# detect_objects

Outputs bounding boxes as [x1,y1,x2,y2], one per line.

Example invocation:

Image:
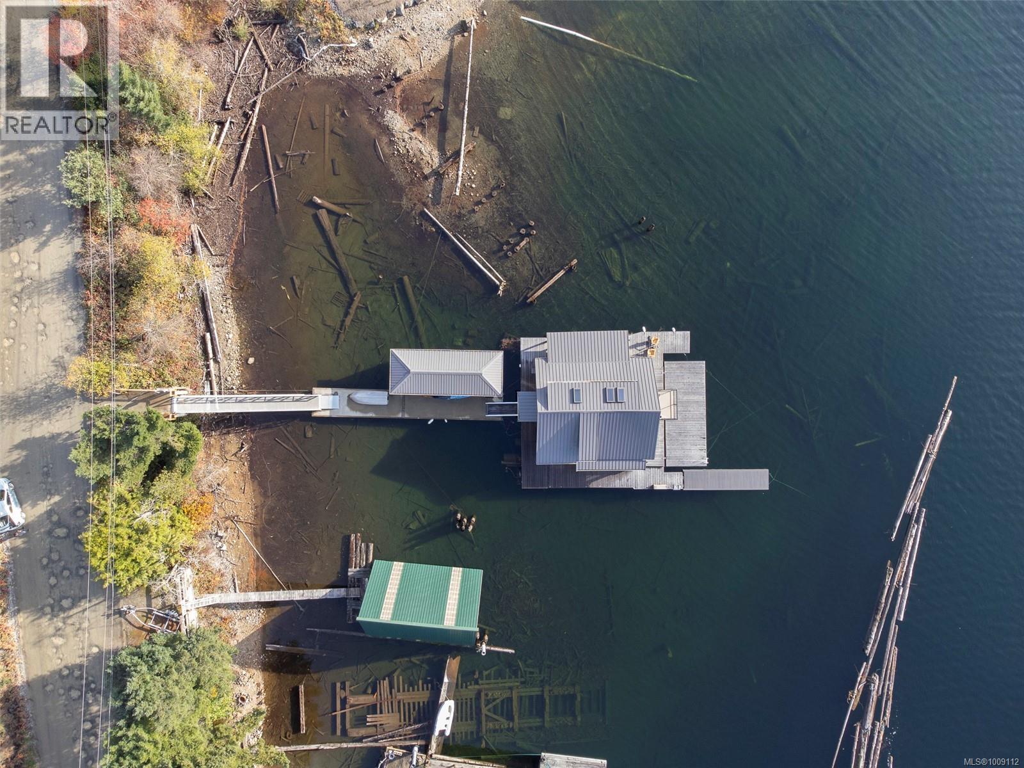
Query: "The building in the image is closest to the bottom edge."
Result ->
[356,560,485,647]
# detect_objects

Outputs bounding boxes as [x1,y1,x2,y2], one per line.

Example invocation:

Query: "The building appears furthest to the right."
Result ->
[517,329,690,490]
